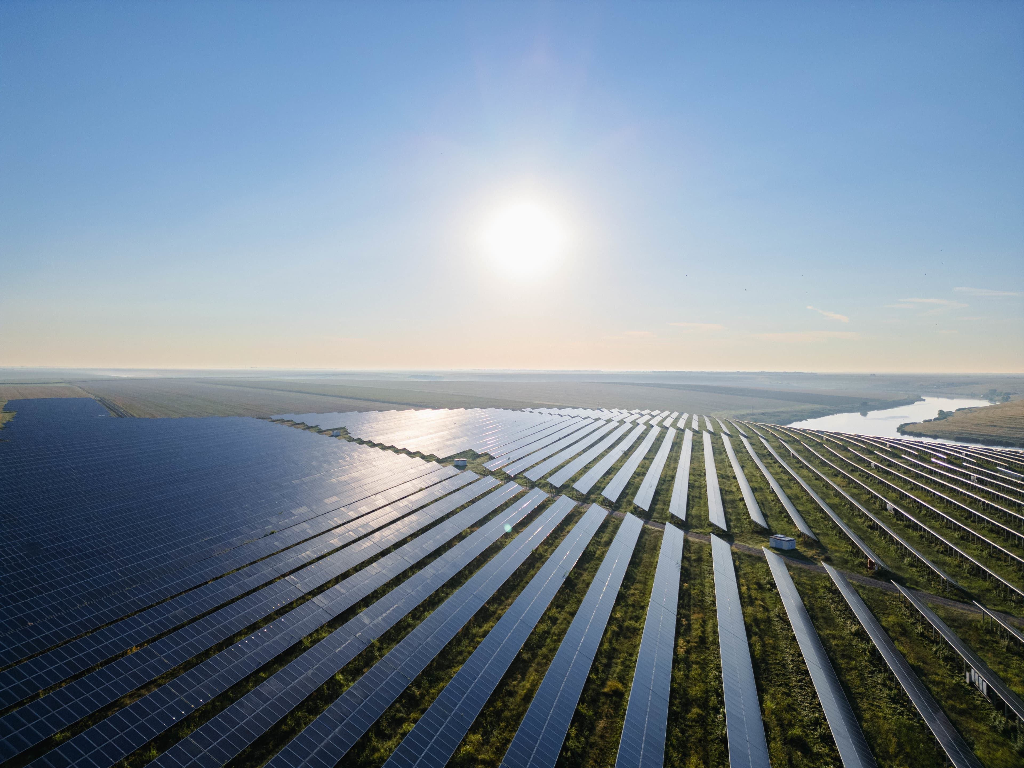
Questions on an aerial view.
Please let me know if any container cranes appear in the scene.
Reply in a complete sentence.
No, no container crane is visible in the view.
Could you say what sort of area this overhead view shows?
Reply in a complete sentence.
This image shows a solar farm.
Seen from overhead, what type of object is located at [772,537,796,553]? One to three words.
building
